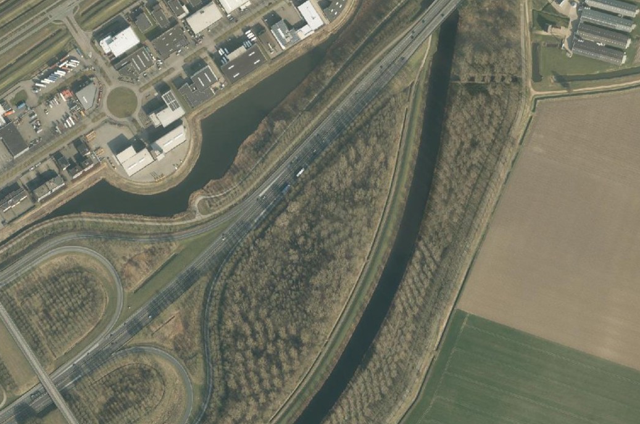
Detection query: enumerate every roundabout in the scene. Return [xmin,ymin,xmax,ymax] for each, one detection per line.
[101,81,142,123]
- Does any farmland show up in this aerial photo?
Yes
